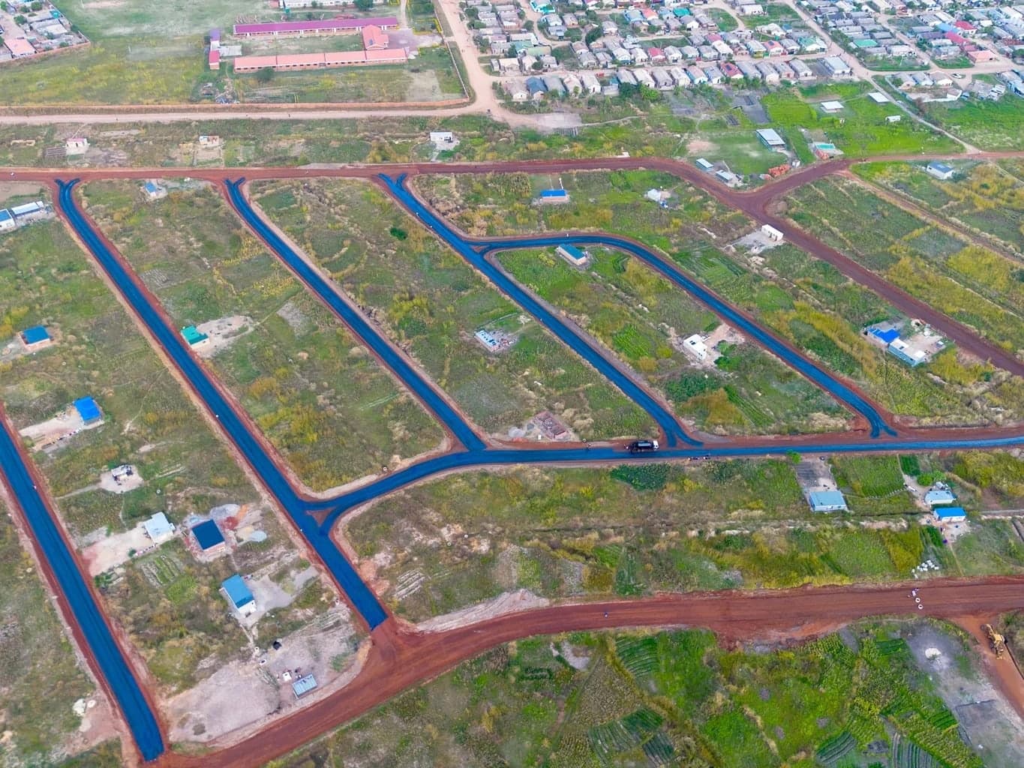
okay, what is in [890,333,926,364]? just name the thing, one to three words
house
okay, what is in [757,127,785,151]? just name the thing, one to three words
barn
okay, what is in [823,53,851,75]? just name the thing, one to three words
house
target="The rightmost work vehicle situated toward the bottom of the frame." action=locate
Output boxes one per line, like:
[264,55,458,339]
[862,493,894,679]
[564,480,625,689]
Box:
[983,622,1008,662]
